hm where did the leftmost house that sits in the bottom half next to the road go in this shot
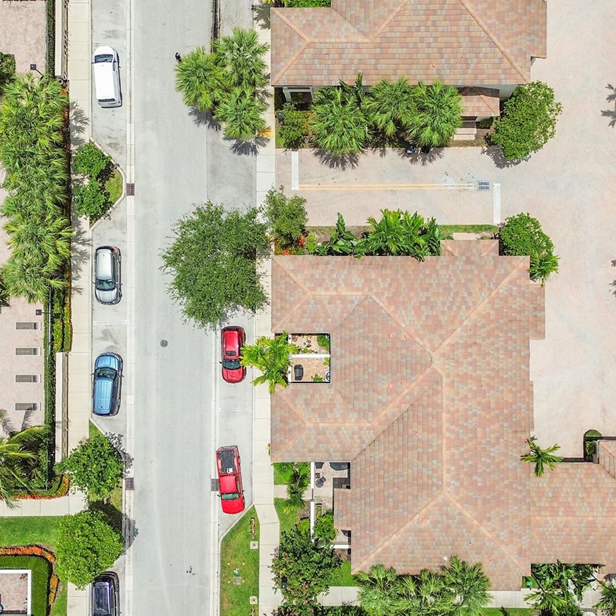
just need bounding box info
[270,239,545,592]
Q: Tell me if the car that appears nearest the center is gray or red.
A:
red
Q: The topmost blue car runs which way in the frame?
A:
vertically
